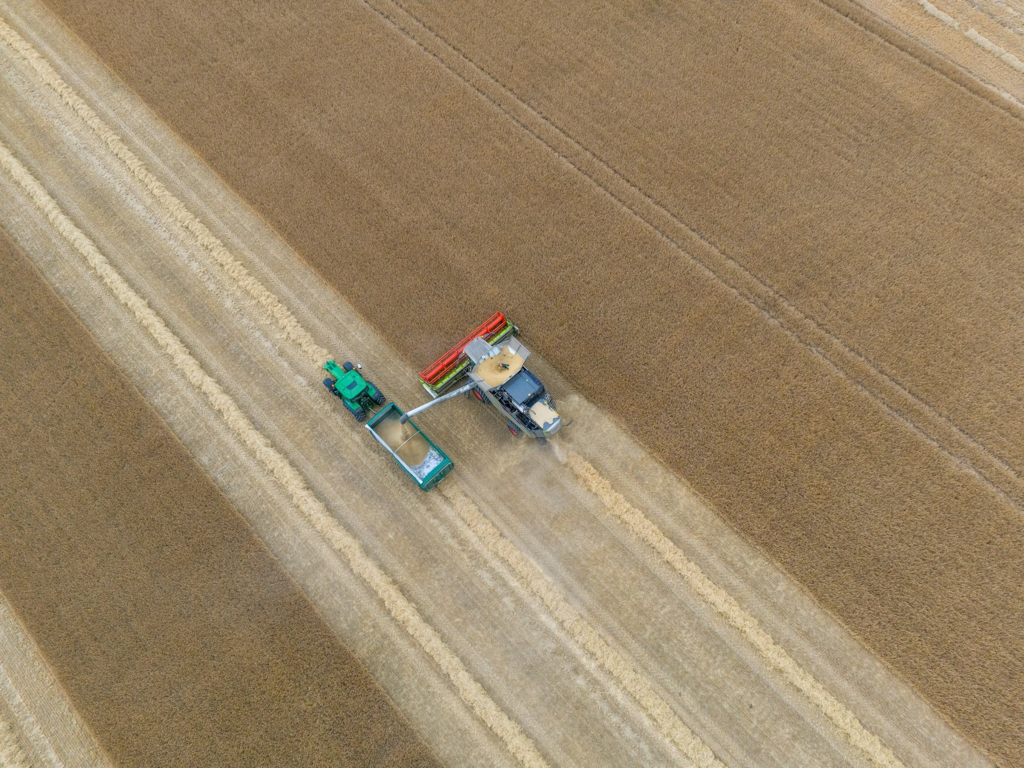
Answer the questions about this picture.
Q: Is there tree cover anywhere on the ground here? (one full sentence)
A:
No, tree cover can't be seen anywhere here.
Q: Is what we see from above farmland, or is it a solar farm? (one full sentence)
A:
The area seen from above is farmland.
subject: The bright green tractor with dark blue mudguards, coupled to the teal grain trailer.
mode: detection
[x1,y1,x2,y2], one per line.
[323,361,385,423]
